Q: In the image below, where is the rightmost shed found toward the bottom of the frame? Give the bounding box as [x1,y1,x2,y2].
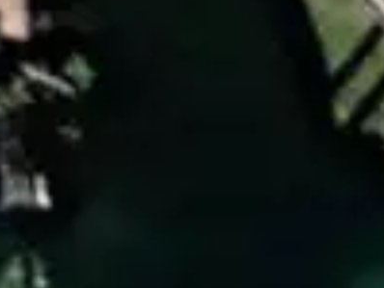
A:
[37,174,68,214]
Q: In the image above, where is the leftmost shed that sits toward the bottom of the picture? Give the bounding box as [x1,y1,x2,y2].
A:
[0,172,51,212]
